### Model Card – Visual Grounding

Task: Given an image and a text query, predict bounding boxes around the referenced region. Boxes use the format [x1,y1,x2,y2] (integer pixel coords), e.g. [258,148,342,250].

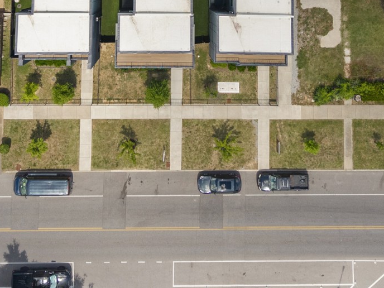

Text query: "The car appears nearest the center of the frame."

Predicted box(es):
[196,171,242,194]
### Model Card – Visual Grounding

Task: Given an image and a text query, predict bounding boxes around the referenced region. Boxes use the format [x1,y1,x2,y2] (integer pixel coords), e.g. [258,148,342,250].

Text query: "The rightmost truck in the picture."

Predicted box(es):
[257,169,310,193]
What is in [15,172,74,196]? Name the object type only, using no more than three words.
vehicle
